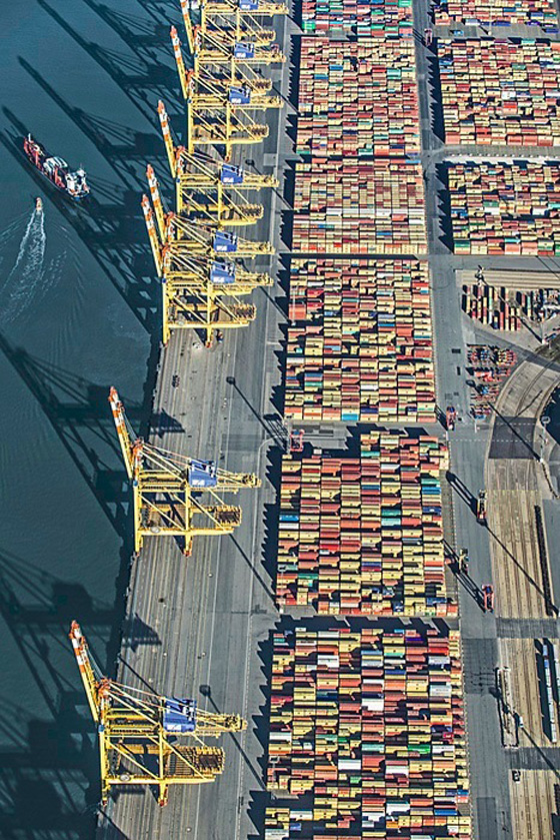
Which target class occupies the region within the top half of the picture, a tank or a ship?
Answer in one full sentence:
What appears within the top half of the picture is a ship.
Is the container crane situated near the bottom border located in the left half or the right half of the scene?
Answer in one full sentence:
The container crane situated near the bottom border is on the left side of the image.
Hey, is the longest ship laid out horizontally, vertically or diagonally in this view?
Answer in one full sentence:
The longest ship is oriented diagonally.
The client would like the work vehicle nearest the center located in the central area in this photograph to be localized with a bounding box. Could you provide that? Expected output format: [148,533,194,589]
[289,433,301,458]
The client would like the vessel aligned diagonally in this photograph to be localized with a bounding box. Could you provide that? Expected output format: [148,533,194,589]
[26,130,96,204]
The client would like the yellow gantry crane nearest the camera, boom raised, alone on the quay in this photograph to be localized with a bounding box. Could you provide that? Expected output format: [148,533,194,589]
[68,614,249,809]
